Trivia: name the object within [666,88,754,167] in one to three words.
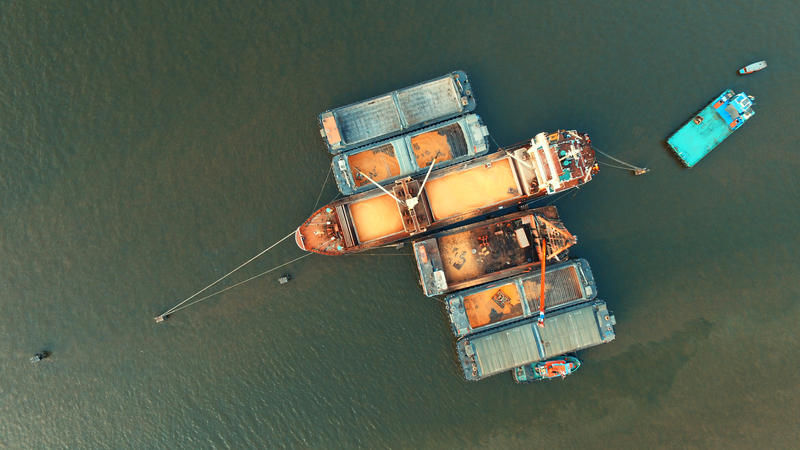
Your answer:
ship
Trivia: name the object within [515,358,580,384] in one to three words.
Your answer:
boat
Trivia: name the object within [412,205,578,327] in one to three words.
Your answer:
ship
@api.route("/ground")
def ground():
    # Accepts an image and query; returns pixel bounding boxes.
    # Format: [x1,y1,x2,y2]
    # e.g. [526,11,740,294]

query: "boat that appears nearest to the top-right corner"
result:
[735,61,769,74]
